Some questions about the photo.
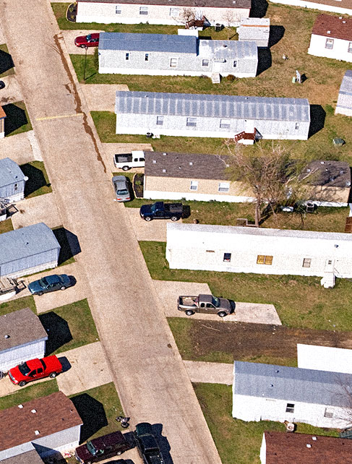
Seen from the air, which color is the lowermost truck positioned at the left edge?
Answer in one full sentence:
The lowermost truck positioned at the left edge is red.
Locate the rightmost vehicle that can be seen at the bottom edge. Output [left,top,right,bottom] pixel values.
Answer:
[135,426,169,464]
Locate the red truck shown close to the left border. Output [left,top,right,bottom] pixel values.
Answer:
[8,354,63,386]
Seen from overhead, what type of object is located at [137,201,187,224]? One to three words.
truck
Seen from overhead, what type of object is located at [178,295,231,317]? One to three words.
truck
